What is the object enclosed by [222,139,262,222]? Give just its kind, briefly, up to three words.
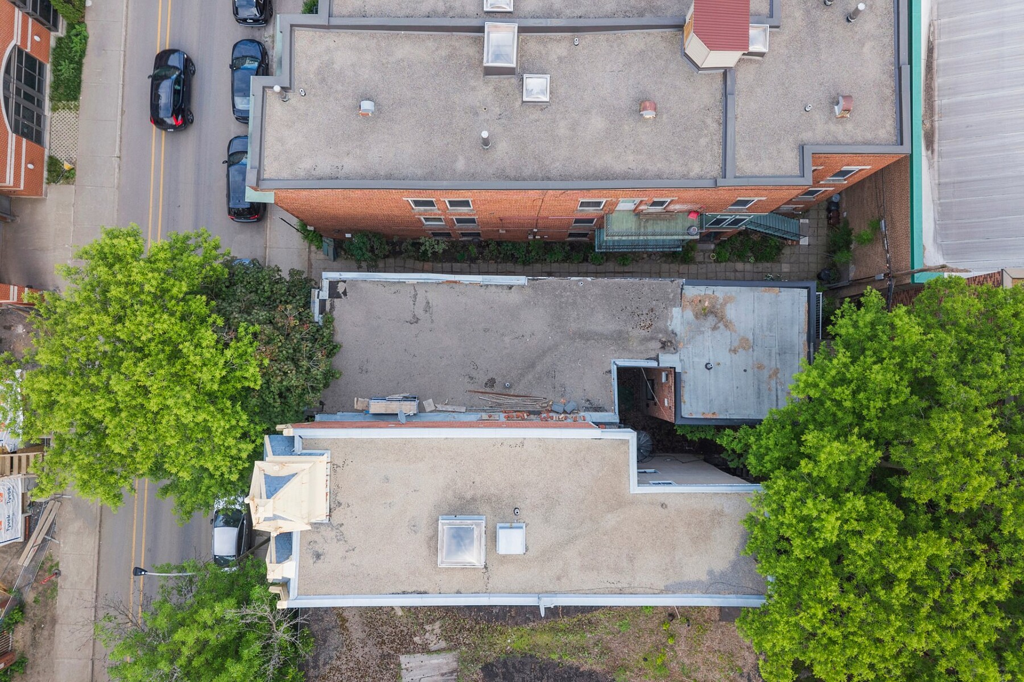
car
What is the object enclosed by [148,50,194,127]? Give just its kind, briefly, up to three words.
car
